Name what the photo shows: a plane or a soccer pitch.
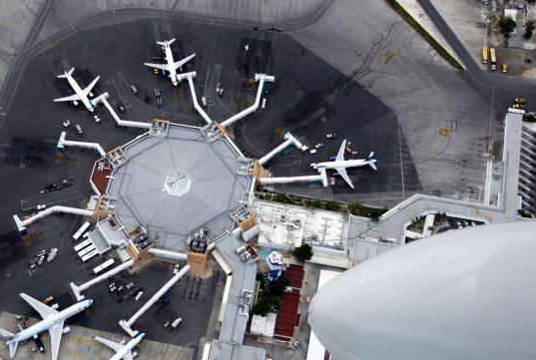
plane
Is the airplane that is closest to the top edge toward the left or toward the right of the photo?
left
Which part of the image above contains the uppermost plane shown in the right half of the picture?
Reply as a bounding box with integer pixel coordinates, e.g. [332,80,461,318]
[313,139,377,187]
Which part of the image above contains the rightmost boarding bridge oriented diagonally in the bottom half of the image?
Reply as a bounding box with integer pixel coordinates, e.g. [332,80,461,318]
[118,266,191,339]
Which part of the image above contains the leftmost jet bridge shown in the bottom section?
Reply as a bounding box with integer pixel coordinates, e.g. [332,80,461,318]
[13,205,93,235]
